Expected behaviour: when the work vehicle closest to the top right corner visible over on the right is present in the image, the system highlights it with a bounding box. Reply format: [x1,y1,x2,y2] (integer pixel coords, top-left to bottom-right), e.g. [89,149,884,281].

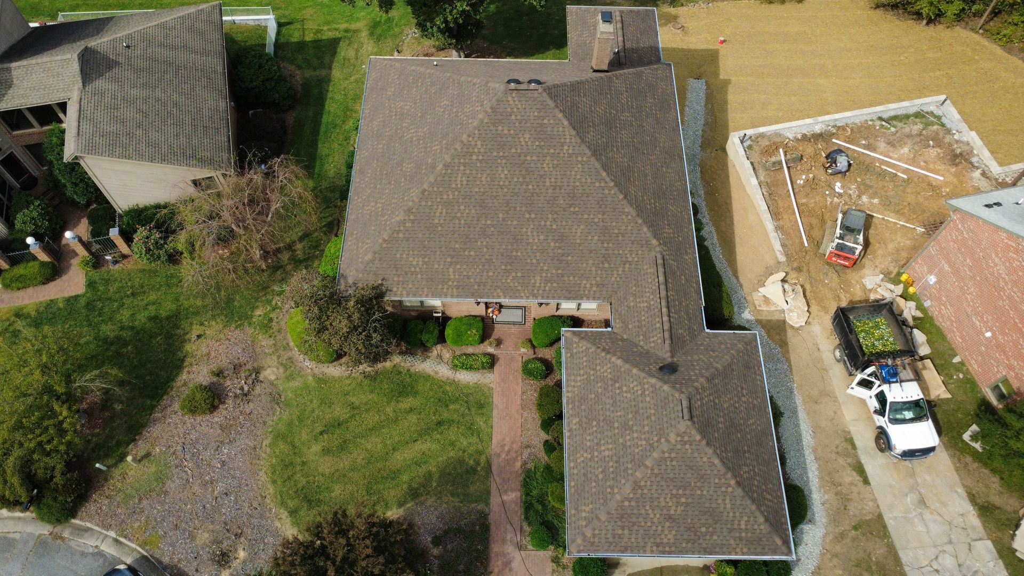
[812,206,865,275]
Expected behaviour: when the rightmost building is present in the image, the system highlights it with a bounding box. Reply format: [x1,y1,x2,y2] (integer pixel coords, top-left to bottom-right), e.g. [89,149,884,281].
[901,173,1024,408]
